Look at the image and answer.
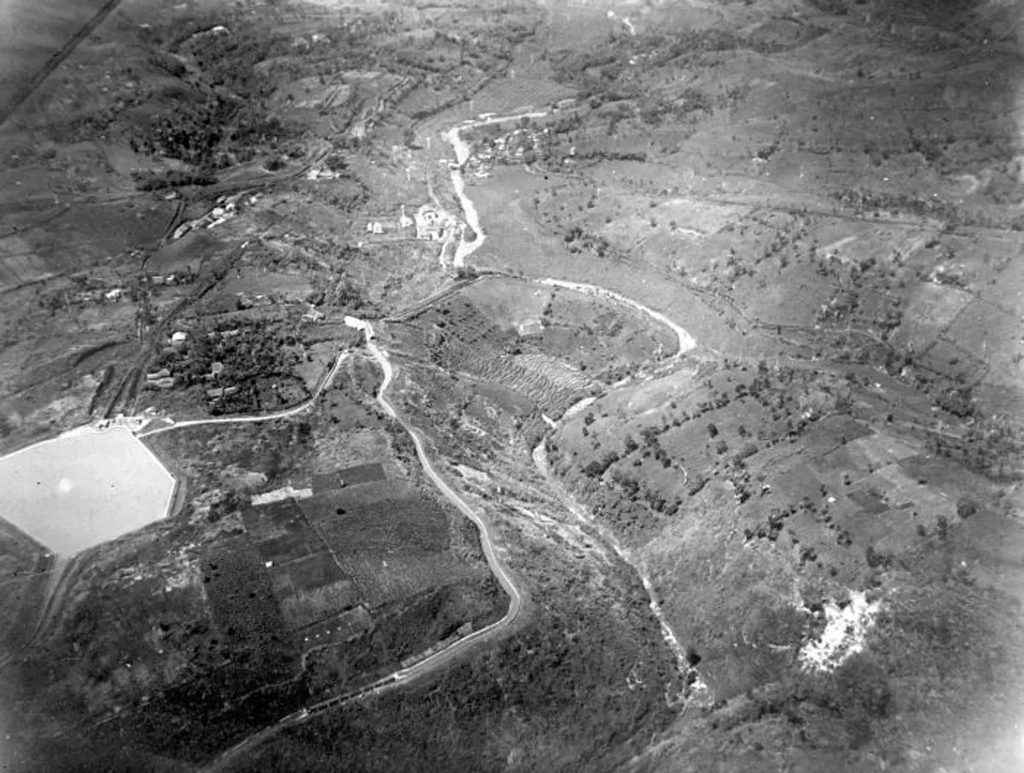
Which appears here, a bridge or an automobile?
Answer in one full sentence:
The image shows a bridge.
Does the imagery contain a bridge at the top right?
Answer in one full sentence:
No, there's no bridge to be seen at the top right.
